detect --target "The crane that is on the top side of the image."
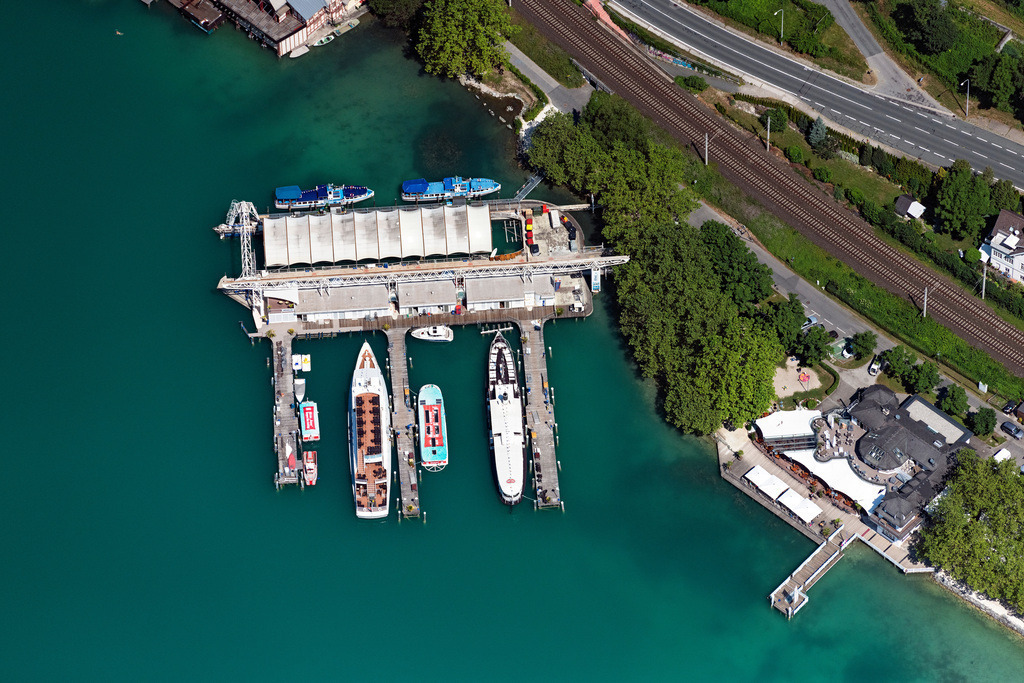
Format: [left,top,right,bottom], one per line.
[224,197,261,303]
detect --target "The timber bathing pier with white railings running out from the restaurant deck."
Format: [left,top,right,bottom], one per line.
[770,541,845,623]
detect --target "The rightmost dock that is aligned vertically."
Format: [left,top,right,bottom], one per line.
[514,319,559,508]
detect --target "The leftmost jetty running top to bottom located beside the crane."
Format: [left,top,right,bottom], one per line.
[262,336,300,484]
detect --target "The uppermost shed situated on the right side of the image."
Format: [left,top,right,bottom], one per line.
[896,193,926,219]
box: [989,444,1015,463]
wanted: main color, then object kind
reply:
white vehicle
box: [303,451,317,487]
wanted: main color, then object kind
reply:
white boat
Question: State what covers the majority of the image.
water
